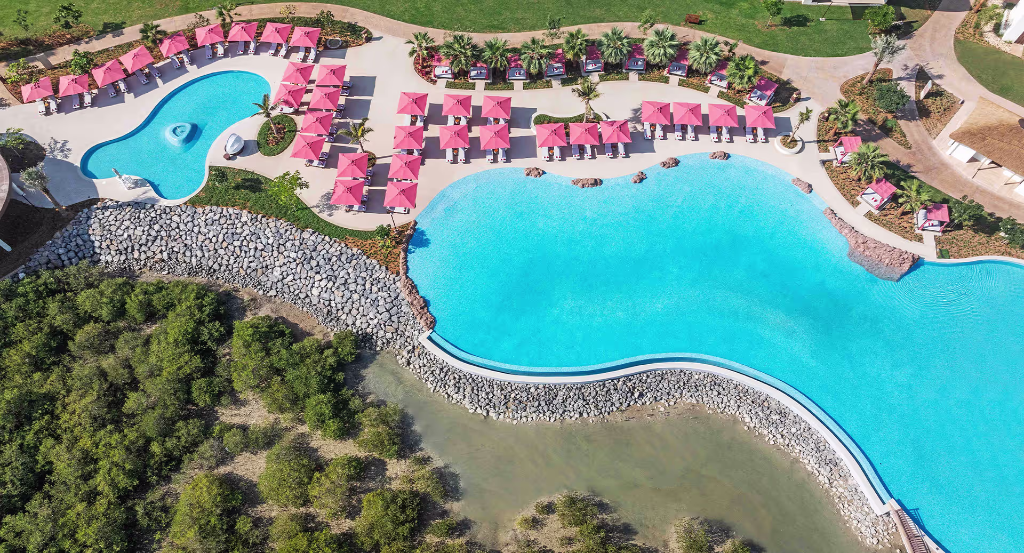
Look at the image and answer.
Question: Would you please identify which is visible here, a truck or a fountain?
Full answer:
It is a fountain that can be seen here.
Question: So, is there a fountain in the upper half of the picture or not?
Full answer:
Yes, the scene does show a fountain in the upper half of the picture.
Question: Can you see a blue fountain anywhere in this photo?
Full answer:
Yes, I can see a blue fountain in this picture.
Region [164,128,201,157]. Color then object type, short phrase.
blue fountain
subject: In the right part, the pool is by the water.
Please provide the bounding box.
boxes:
[407,152,1024,553]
